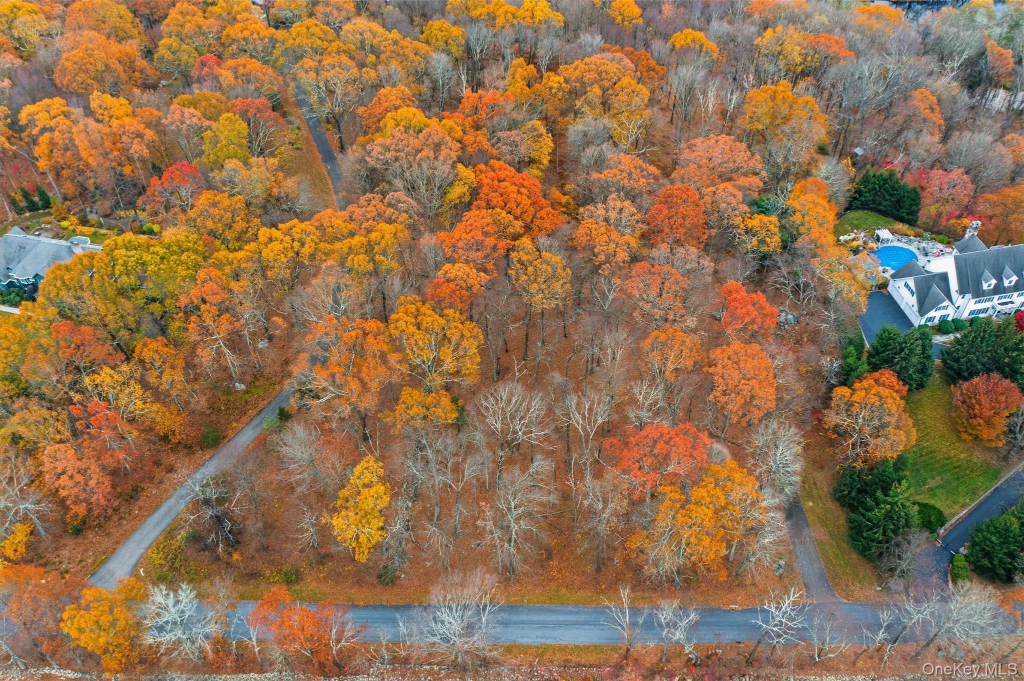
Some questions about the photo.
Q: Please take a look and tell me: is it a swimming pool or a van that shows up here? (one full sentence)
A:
Of the two, only a swimming pool appears.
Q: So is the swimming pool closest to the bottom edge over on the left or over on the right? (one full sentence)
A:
The swimming pool closest to the bottom edge sits on the right side.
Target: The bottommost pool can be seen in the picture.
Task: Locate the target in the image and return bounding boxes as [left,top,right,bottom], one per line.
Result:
[868,243,922,271]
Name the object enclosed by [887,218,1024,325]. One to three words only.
house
